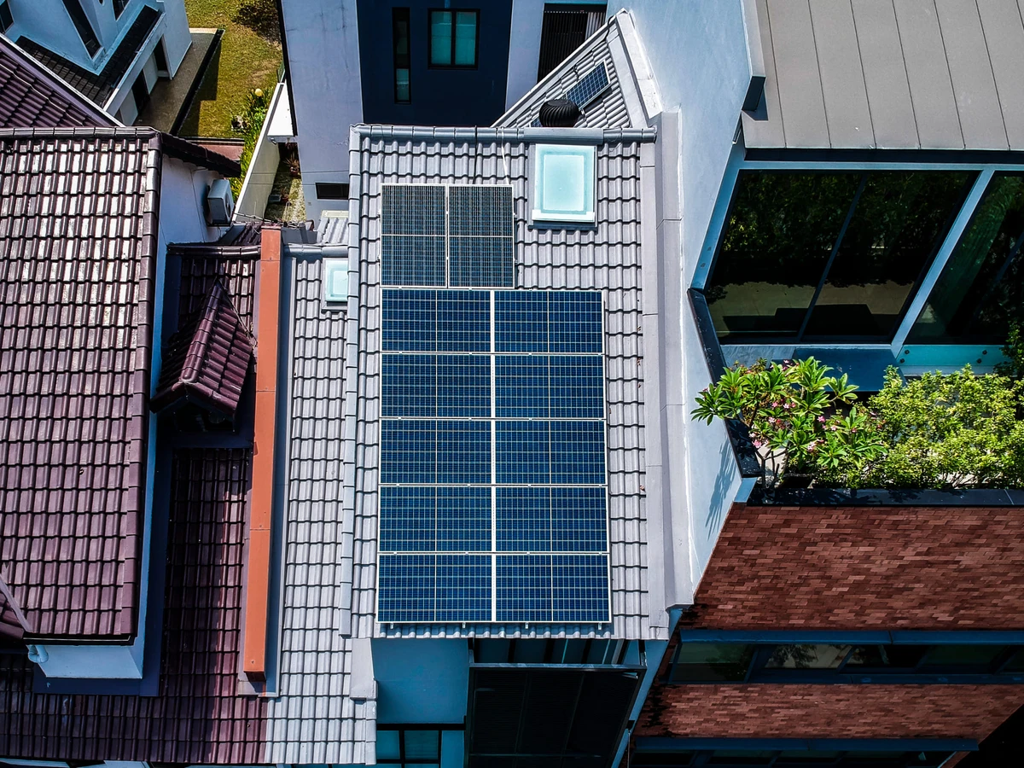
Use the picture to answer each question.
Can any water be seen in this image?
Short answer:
No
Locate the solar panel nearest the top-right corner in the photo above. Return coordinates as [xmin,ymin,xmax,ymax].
[567,64,609,109]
